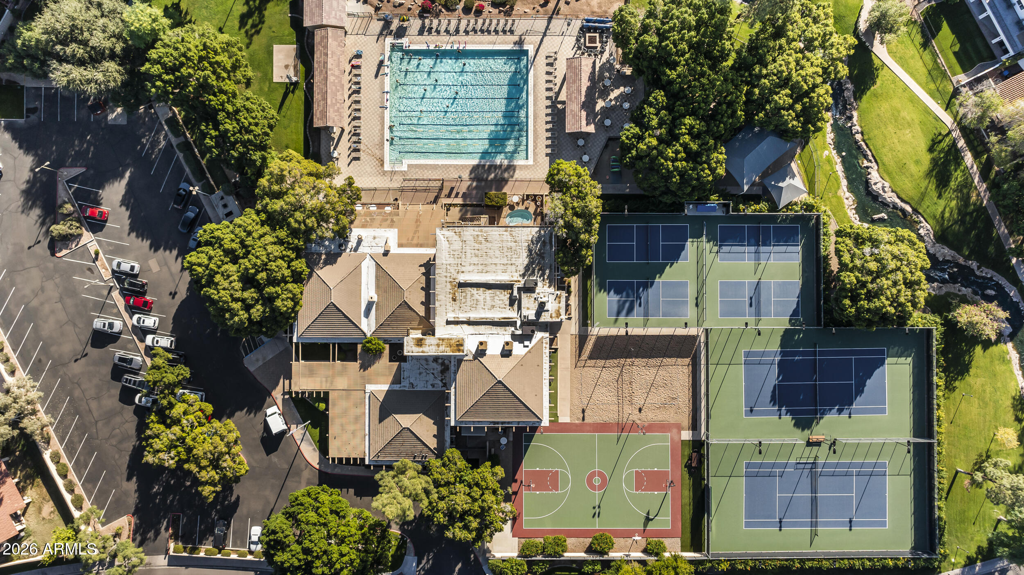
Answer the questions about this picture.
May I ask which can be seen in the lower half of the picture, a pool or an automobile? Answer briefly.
automobile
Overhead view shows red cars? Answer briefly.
Yes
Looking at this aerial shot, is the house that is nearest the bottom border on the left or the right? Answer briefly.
left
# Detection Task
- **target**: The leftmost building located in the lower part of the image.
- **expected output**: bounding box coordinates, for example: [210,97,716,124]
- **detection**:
[0,453,43,544]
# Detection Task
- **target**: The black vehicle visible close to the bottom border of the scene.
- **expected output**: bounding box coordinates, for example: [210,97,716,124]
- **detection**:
[212,519,229,550]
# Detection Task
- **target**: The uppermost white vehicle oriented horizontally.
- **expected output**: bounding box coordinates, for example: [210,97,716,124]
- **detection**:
[112,260,142,275]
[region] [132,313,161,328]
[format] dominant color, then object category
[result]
white car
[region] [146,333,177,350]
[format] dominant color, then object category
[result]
white car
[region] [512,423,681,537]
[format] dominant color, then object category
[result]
green basketball court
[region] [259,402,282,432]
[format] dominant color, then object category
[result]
white vehicle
